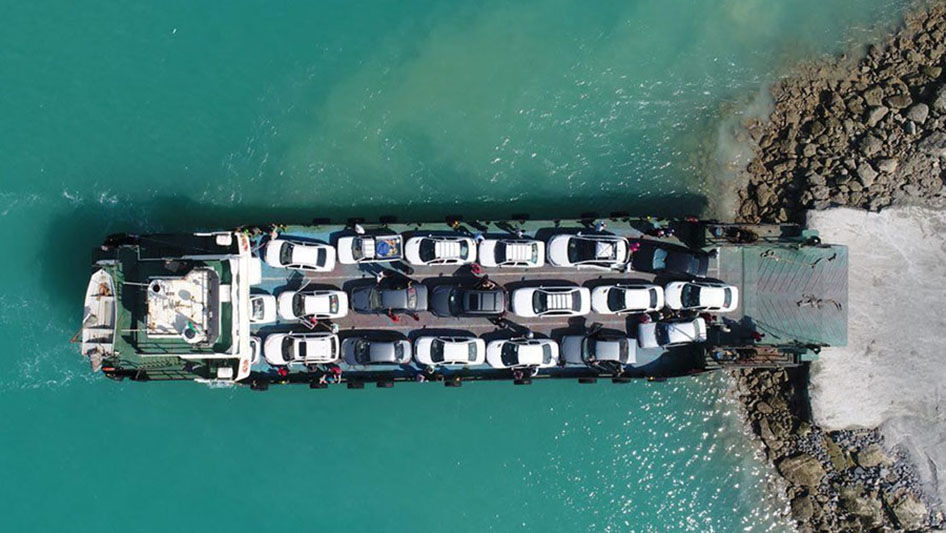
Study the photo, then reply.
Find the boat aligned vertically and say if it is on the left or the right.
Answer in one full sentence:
The boat aligned vertically sits on the left side.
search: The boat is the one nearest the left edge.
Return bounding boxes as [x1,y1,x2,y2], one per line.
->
[71,264,115,379]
